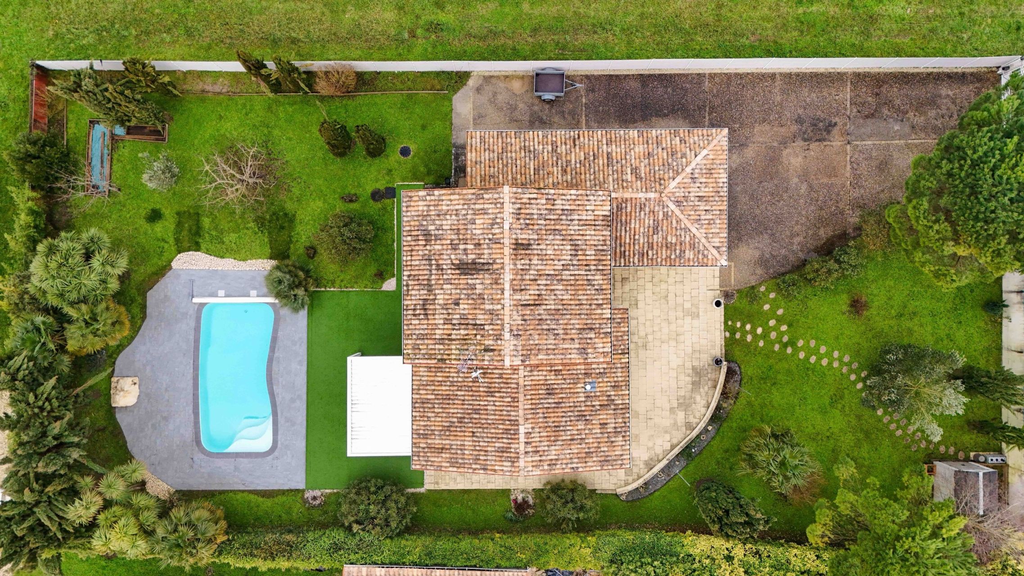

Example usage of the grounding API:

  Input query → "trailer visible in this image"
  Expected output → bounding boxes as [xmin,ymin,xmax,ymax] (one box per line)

[534,67,584,102]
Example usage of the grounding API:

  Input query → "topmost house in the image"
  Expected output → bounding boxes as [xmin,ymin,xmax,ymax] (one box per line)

[399,126,730,479]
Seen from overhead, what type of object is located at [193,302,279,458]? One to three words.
swimming pool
